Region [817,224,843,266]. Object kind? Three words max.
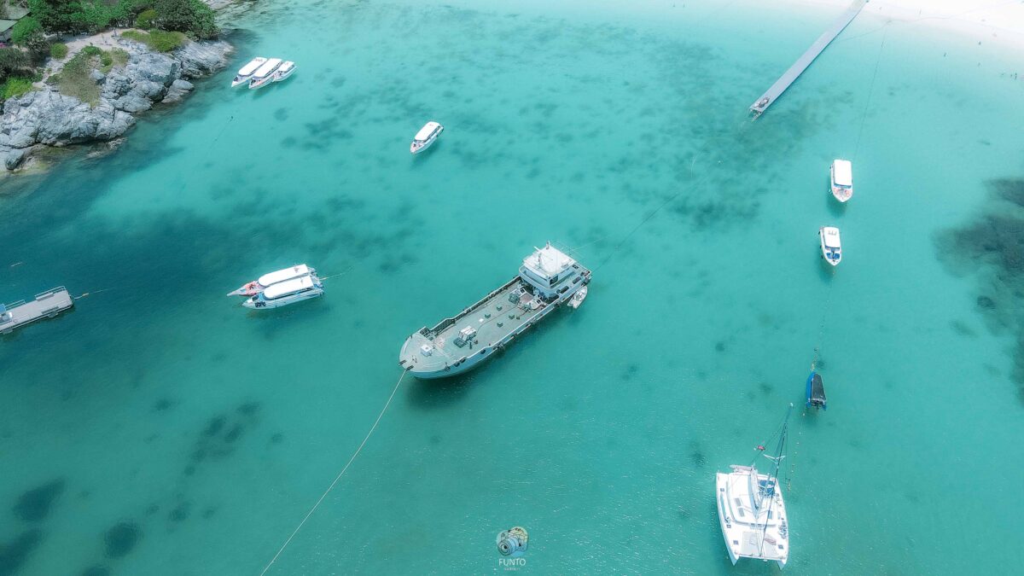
boat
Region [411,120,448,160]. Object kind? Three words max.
boat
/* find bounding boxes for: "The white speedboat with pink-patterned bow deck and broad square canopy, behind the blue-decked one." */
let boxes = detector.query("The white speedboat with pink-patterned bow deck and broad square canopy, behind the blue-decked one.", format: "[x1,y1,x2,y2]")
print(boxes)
[830,161,855,204]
